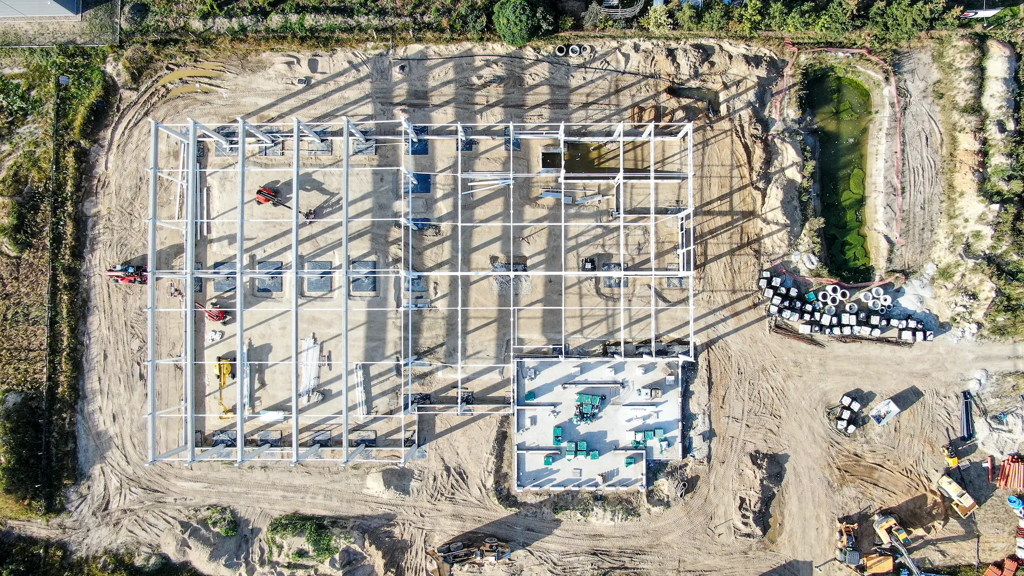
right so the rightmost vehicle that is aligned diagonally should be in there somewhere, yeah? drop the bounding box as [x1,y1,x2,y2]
[933,471,985,520]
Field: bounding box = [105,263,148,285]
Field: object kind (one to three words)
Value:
work vehicle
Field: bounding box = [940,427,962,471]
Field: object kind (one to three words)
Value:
work vehicle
